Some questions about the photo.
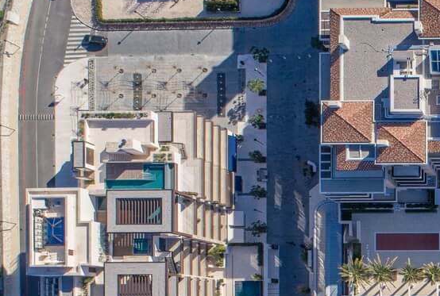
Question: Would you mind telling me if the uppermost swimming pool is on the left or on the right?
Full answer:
It is on the left.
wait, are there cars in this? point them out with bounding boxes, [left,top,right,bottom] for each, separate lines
[80,32,107,46]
